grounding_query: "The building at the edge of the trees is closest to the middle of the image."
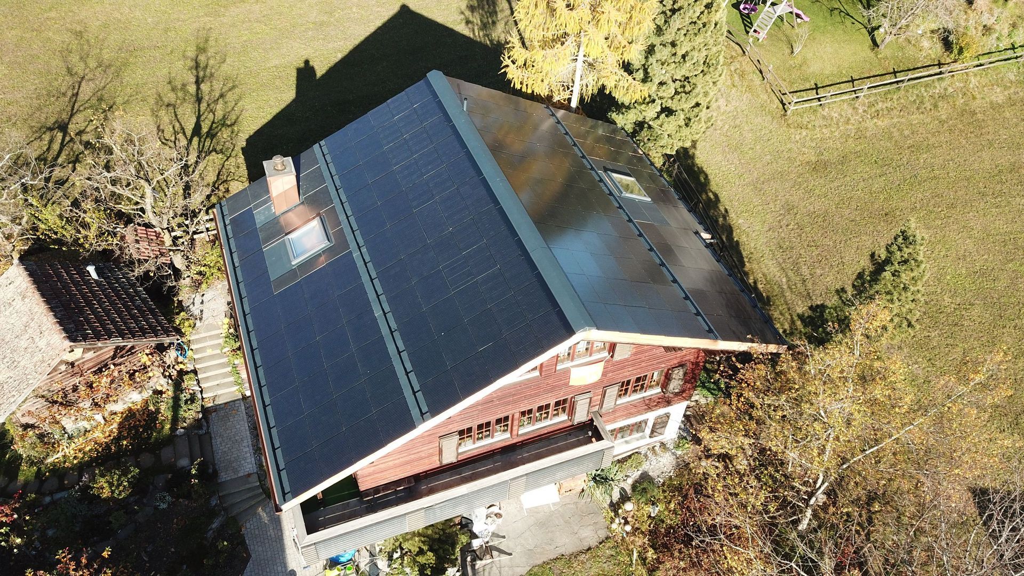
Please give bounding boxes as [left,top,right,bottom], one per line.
[211,67,793,572]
